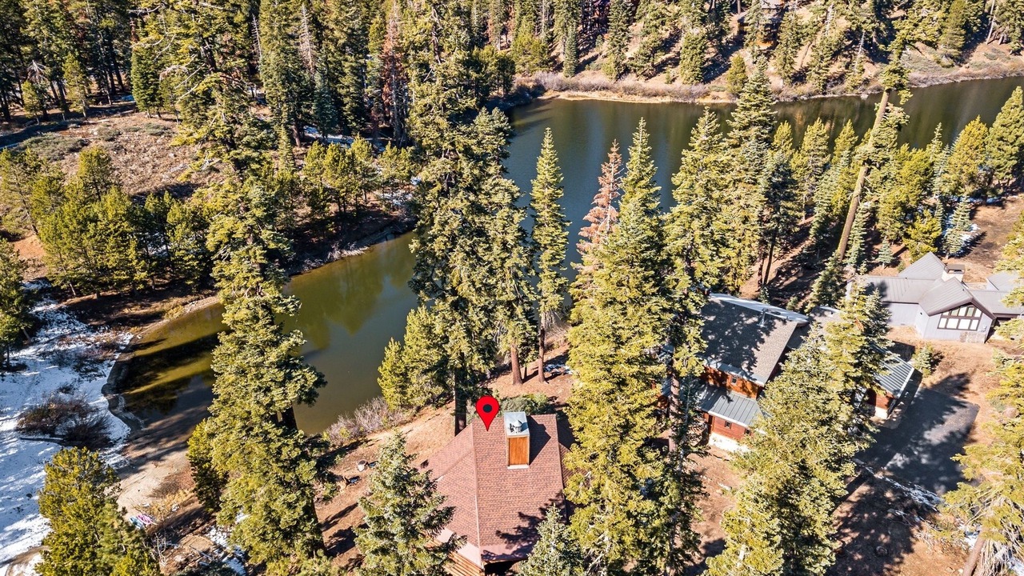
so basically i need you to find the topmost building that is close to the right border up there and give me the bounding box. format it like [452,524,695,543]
[849,248,1024,342]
